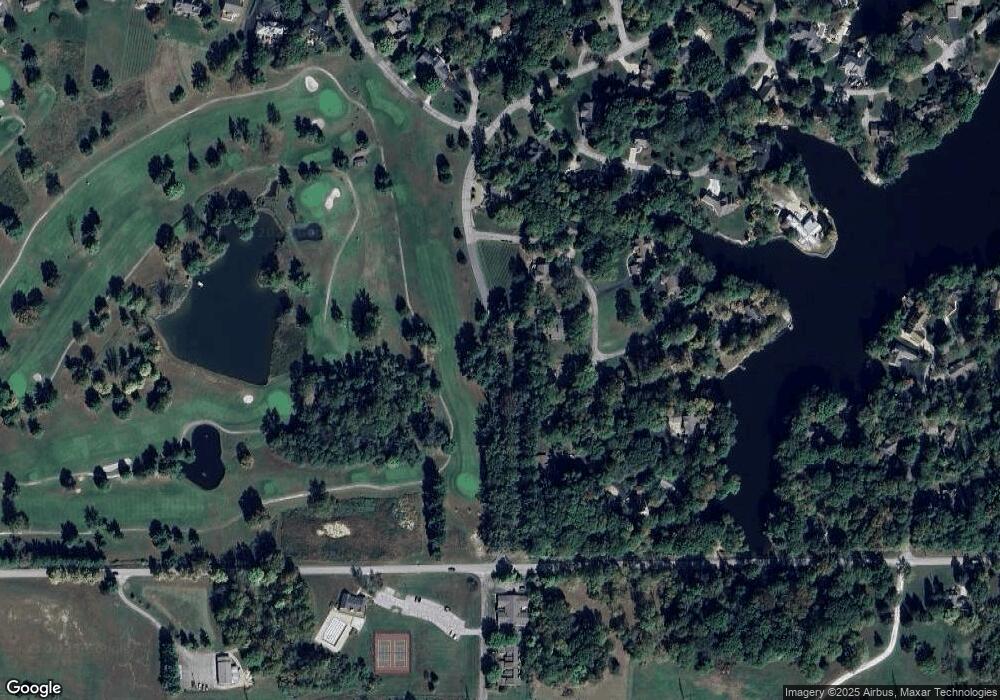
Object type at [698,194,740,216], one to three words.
house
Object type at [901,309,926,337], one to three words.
house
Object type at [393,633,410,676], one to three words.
tennis court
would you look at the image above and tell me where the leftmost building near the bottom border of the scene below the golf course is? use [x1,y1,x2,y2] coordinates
[217,649,239,683]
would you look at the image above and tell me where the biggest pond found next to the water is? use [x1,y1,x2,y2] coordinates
[156,210,281,386]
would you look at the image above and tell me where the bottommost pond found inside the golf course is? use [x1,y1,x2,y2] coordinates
[181,423,226,489]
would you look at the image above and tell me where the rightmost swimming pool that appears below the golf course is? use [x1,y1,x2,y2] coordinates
[314,607,365,651]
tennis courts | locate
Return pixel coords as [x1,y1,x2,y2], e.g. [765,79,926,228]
[375,633,393,676]
[393,633,410,676]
